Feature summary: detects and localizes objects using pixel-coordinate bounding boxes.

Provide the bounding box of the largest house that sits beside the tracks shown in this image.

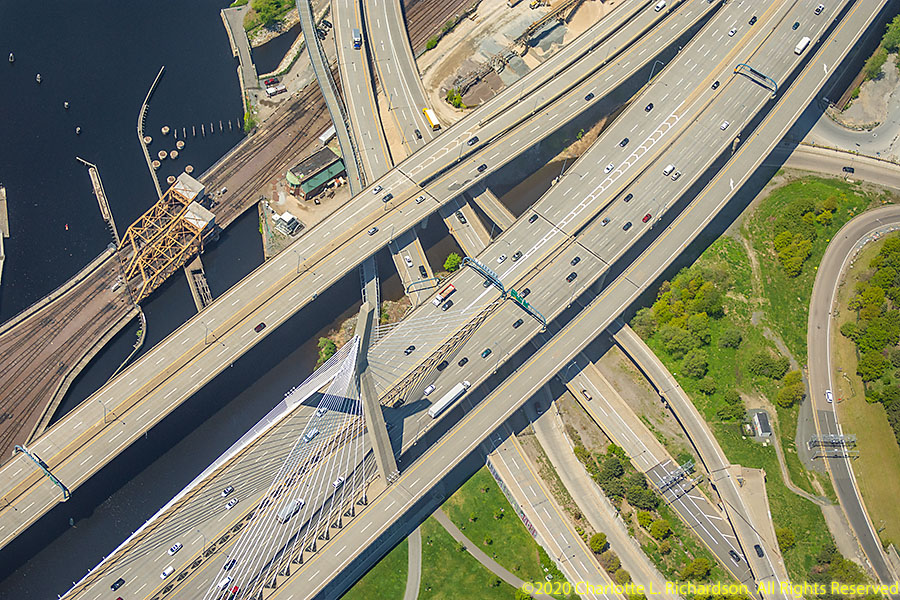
[283,146,345,203]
